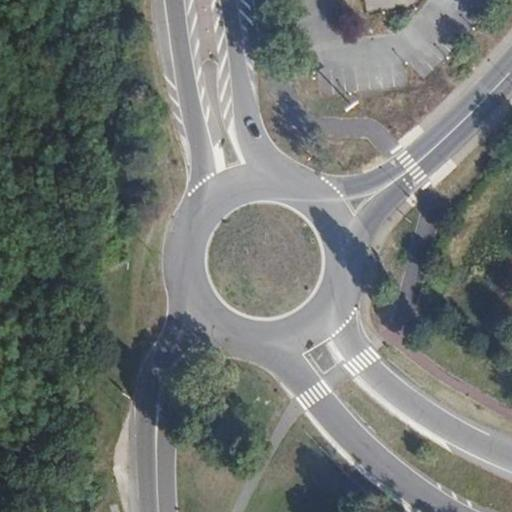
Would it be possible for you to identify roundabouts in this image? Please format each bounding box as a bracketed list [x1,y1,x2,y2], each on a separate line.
[164,0,374,382]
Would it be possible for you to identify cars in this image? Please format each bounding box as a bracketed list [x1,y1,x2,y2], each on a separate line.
[244,118,262,139]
